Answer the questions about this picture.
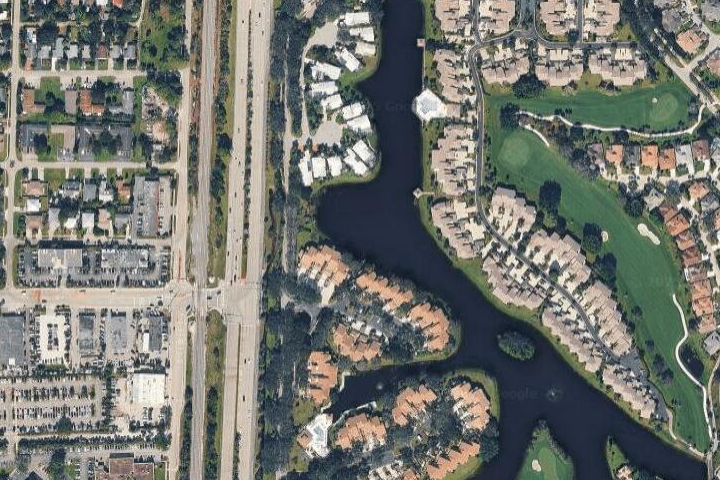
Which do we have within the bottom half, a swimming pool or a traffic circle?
swimming pool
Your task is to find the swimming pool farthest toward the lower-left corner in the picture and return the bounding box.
[305,414,332,459]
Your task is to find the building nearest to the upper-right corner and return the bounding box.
[701,0,720,21]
